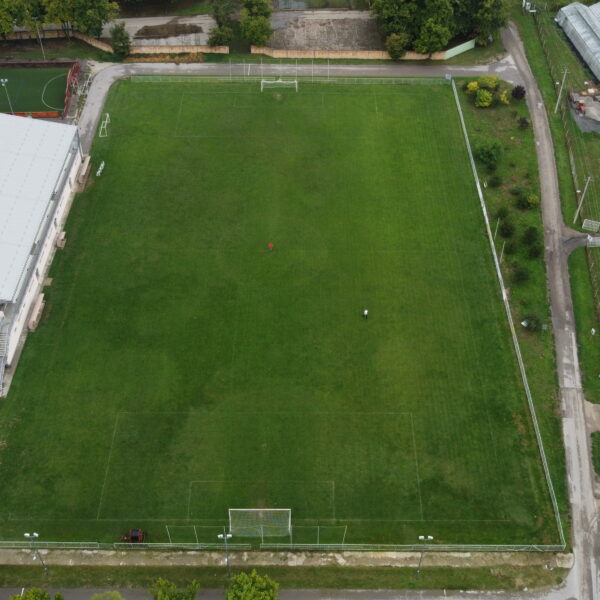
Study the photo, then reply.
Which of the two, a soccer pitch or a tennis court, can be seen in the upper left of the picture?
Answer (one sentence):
Visible in the upper left of the picture is a soccer pitch.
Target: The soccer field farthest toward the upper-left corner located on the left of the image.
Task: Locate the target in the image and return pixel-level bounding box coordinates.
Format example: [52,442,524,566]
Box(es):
[0,66,67,117]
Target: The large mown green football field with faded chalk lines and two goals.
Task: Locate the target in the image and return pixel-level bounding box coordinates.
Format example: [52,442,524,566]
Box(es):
[0,79,564,554]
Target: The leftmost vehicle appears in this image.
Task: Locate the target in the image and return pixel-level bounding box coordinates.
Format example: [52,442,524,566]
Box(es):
[121,527,143,547]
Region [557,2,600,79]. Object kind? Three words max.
greenhouse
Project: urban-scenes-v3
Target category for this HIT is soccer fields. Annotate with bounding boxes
[0,79,564,554]
[0,66,67,117]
